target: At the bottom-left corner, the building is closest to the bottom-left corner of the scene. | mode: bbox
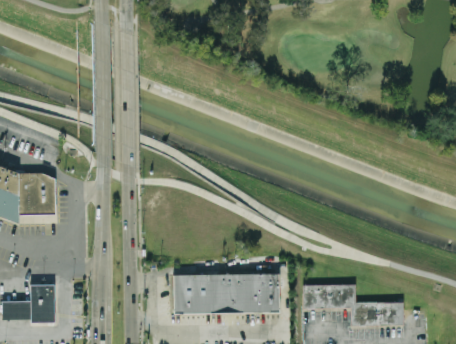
[2,284,55,323]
